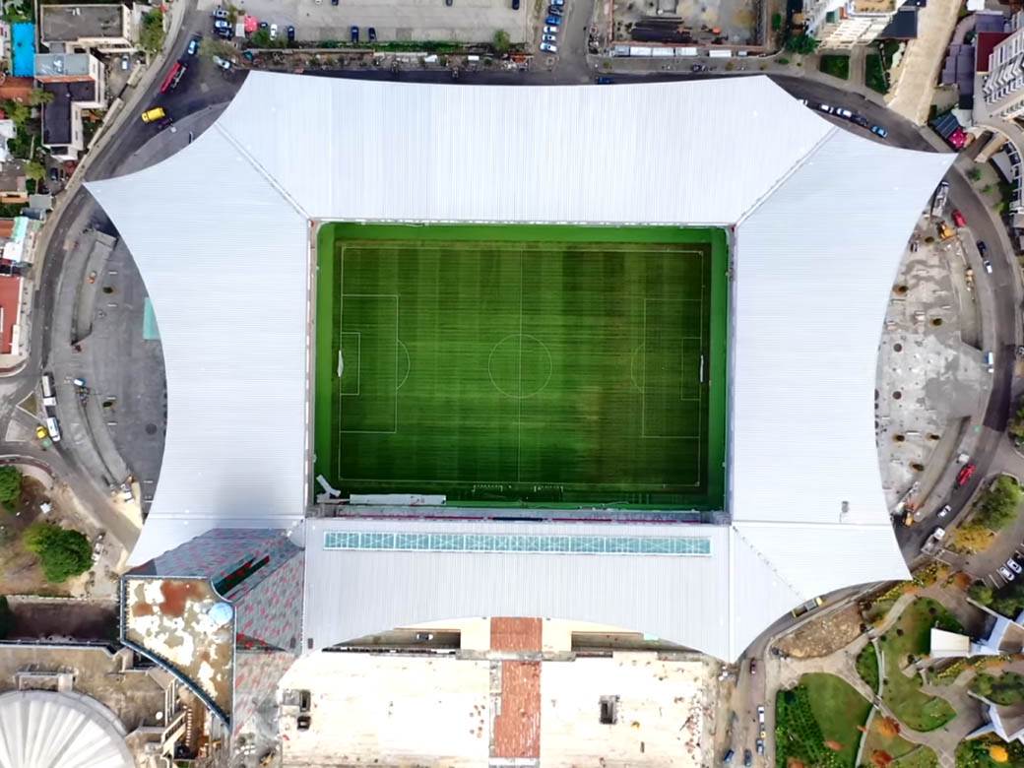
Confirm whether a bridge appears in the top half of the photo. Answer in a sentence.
No, I can find no bridge in the top half of the photo.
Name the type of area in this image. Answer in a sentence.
The picture captures a sports ground.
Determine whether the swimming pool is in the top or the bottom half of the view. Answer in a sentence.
It is in the top half that the swimming pool appears.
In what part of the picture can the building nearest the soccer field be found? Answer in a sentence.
The building nearest the soccer field appears toward the bottom left of the photo.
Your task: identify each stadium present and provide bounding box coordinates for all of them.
[87,71,954,661]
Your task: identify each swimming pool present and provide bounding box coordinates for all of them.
[11,21,35,77]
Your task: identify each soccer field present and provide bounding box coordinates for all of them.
[307,226,727,518]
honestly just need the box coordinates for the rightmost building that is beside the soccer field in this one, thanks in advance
[120,528,303,756]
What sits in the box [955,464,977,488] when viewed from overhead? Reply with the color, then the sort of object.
red truck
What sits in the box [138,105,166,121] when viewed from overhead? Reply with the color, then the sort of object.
yellow vehicle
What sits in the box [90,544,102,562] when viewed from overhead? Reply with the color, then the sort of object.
white vehicle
